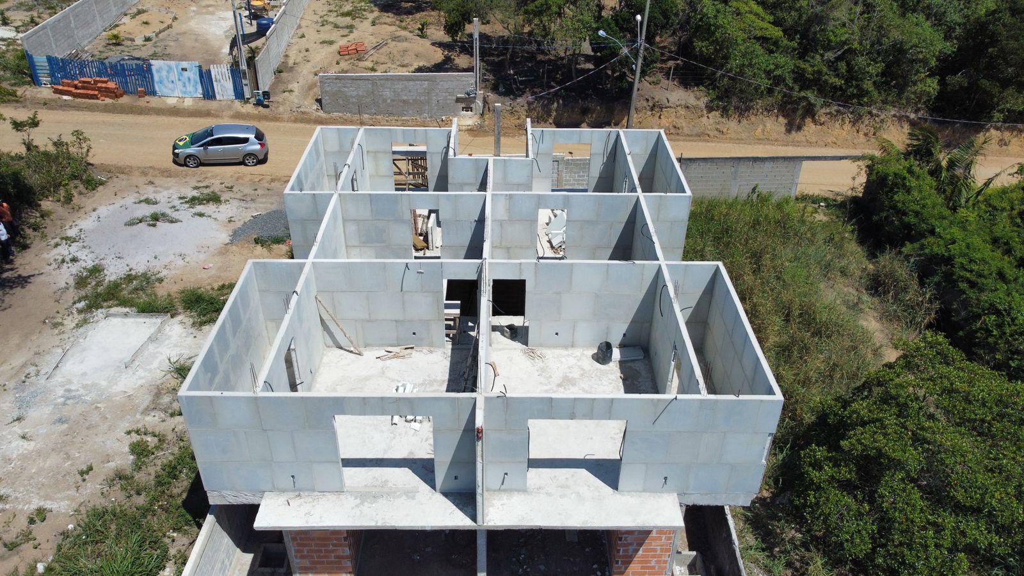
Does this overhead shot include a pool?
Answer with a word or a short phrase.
No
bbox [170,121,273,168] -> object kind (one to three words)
car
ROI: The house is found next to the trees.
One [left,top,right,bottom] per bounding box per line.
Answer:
[178,109,783,576]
